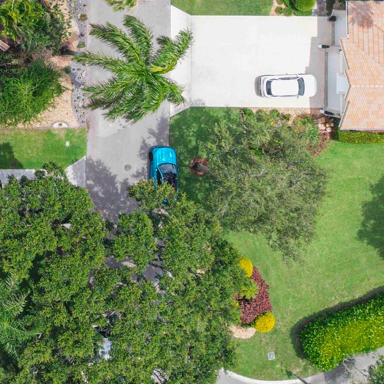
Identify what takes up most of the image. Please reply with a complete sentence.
Most of the picture is covered by trees.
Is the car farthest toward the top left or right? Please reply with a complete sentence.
It is on the right.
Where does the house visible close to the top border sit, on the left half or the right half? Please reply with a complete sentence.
The house visible close to the top border appears in the right half of the scene.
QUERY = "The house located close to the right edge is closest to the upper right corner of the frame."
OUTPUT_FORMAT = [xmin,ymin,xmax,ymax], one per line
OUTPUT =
[323,0,384,130]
